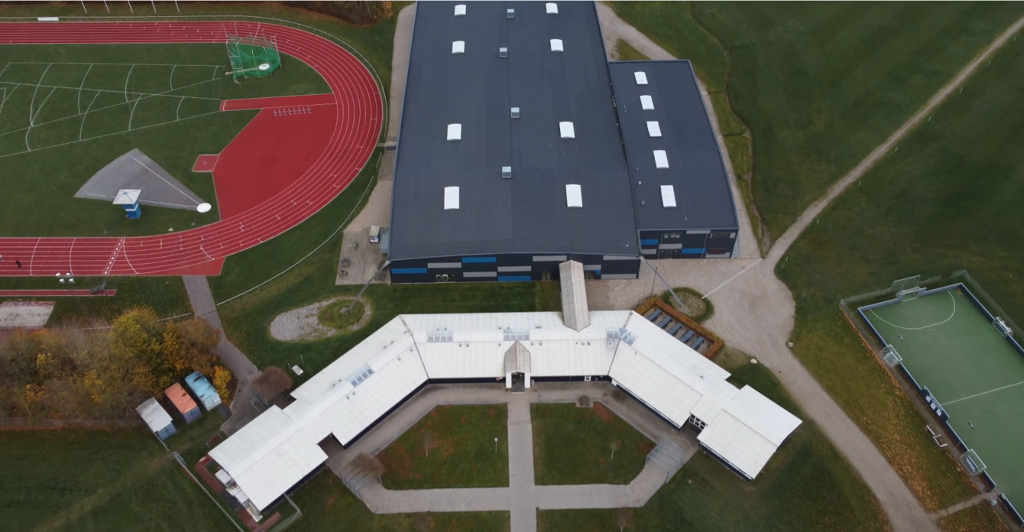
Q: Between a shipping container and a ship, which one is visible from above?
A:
shipping container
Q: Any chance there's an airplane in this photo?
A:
No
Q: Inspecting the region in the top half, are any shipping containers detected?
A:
No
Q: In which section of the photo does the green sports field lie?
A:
top left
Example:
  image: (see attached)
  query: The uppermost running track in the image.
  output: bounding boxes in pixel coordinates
[0,20,384,276]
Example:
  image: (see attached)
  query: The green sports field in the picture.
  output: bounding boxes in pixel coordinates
[0,42,335,237]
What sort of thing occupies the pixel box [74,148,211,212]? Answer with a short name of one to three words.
sports field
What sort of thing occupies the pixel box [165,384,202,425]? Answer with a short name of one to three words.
shipping container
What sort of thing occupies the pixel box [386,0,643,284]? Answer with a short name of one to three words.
building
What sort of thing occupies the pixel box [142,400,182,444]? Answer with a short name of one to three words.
shipping container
